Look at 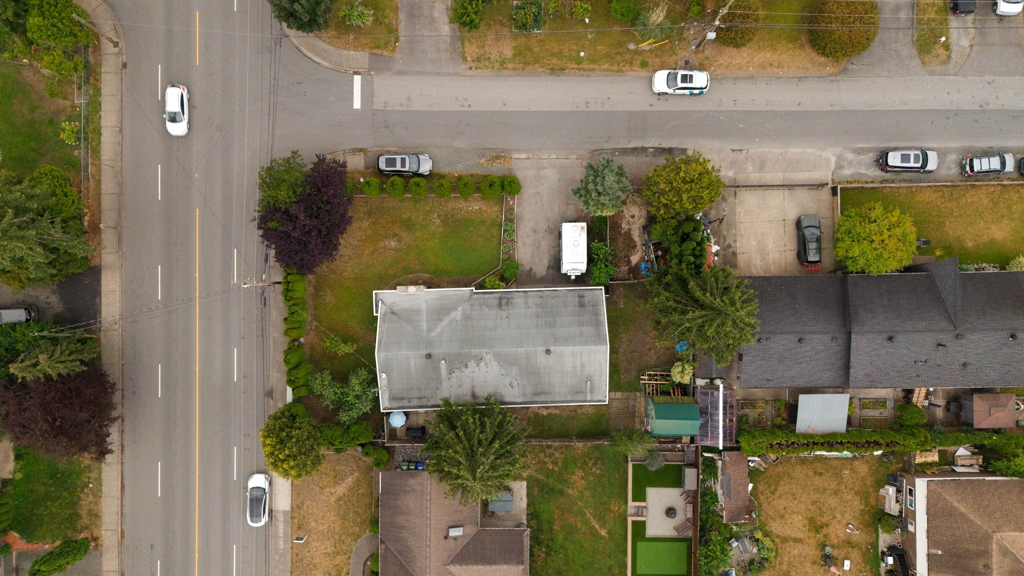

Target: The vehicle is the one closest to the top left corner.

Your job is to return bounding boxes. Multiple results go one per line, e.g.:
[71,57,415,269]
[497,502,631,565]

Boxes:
[163,84,191,137]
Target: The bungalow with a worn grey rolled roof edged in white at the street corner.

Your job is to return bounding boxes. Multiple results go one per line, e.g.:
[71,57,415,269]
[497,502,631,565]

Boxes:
[372,285,611,413]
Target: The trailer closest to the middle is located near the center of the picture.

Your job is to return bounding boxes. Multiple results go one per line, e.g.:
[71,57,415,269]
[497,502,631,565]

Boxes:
[555,220,588,287]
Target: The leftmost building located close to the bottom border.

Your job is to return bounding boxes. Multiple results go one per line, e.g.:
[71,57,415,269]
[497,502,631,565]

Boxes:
[378,469,530,576]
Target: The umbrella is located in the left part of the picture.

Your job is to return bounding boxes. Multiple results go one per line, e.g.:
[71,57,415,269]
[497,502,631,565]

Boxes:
[388,412,407,428]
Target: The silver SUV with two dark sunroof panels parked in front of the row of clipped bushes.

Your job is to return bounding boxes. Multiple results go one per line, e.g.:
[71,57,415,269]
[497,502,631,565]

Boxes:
[376,150,433,177]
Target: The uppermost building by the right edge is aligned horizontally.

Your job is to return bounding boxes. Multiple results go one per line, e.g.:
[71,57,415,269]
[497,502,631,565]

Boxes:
[737,257,1024,389]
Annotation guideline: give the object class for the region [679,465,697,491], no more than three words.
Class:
shed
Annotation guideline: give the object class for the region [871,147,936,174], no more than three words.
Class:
car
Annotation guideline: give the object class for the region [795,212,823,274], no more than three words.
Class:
car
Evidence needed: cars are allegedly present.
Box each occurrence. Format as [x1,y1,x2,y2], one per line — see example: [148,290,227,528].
[651,69,709,97]
[0,302,39,327]
[958,152,1014,178]
[245,470,273,528]
[163,84,191,137]
[948,0,980,15]
[376,150,433,177]
[795,212,823,274]
[990,0,1019,16]
[871,147,936,174]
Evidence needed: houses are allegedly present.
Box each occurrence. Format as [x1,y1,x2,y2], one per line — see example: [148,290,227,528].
[737,257,1024,389]
[890,472,1024,576]
[372,285,611,413]
[378,469,530,576]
